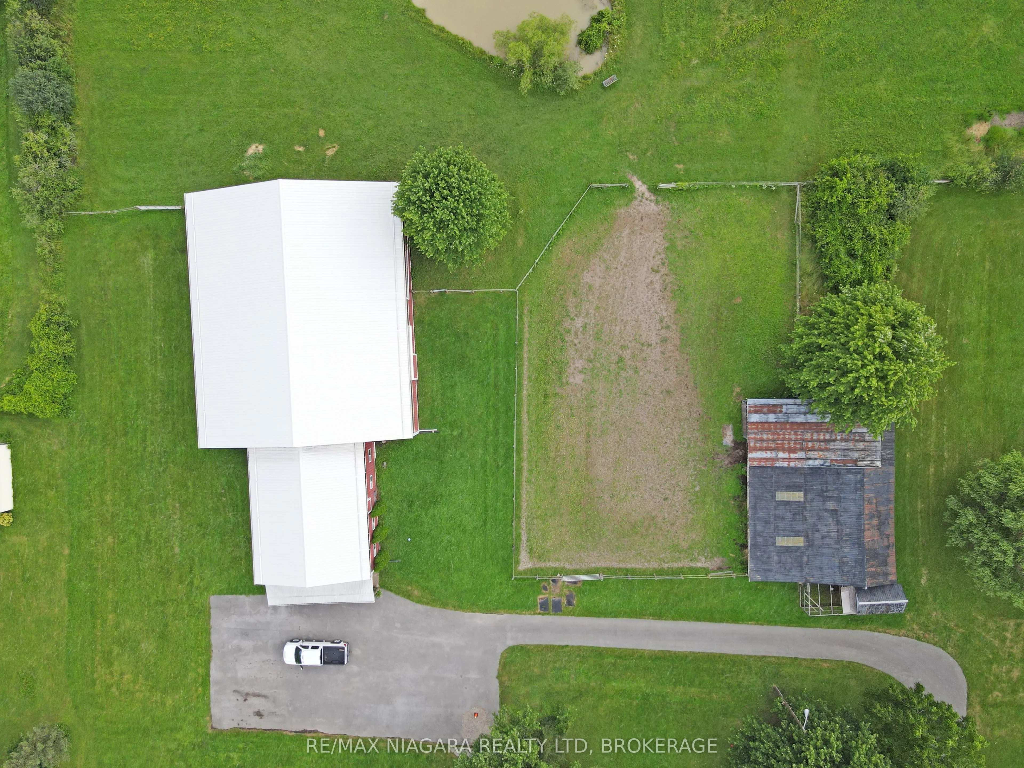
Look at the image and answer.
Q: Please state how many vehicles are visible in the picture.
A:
1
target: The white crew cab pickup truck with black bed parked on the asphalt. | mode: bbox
[284,639,352,669]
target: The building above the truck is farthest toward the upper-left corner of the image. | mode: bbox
[181,179,418,449]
